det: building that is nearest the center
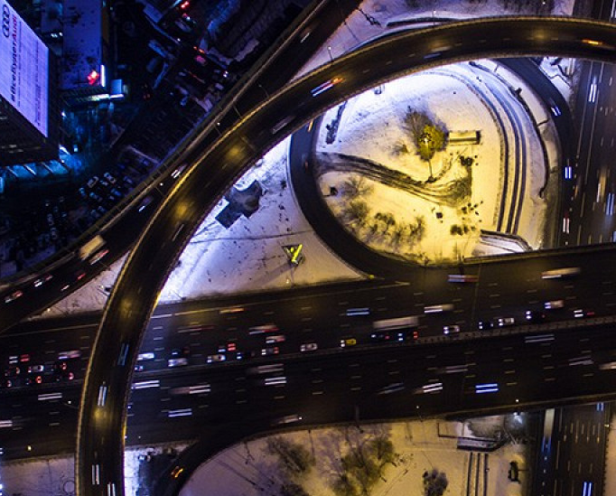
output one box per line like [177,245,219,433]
[212,174,267,227]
